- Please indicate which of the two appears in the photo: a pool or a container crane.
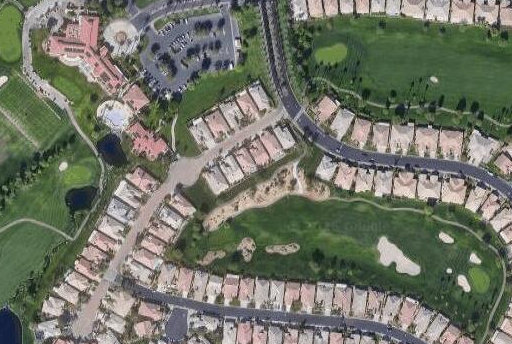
pool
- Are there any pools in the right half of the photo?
No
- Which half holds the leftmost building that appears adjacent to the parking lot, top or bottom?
top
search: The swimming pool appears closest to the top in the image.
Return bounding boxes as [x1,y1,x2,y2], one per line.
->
[97,100,131,131]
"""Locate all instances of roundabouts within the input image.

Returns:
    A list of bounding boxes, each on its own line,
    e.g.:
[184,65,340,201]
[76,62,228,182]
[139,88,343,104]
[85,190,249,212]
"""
[104,19,140,60]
